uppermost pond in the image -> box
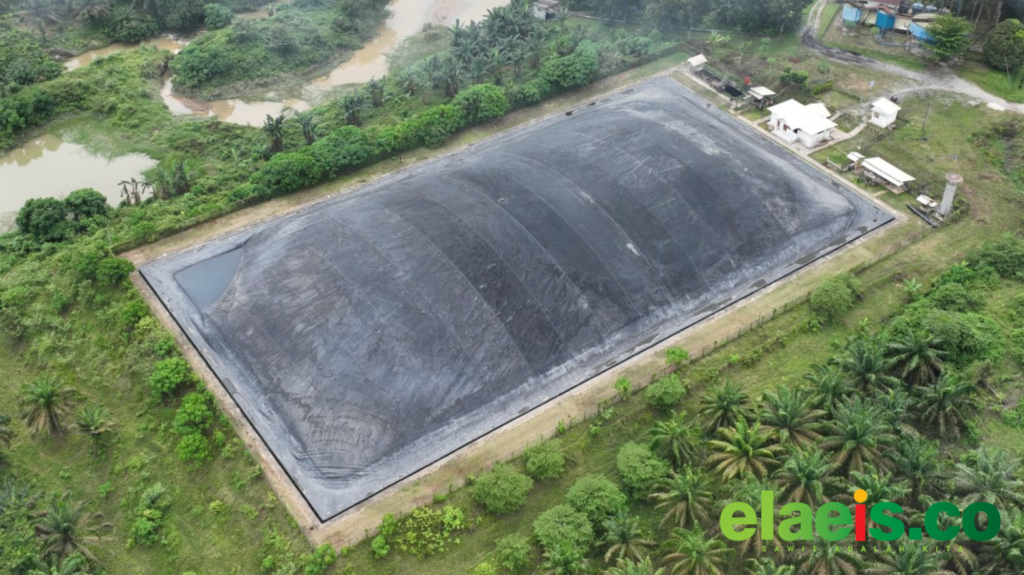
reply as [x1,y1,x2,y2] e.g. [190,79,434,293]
[0,135,152,238]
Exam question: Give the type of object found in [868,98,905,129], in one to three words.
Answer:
shed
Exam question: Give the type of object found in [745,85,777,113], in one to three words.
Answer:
shed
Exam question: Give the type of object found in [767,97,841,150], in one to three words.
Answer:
house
